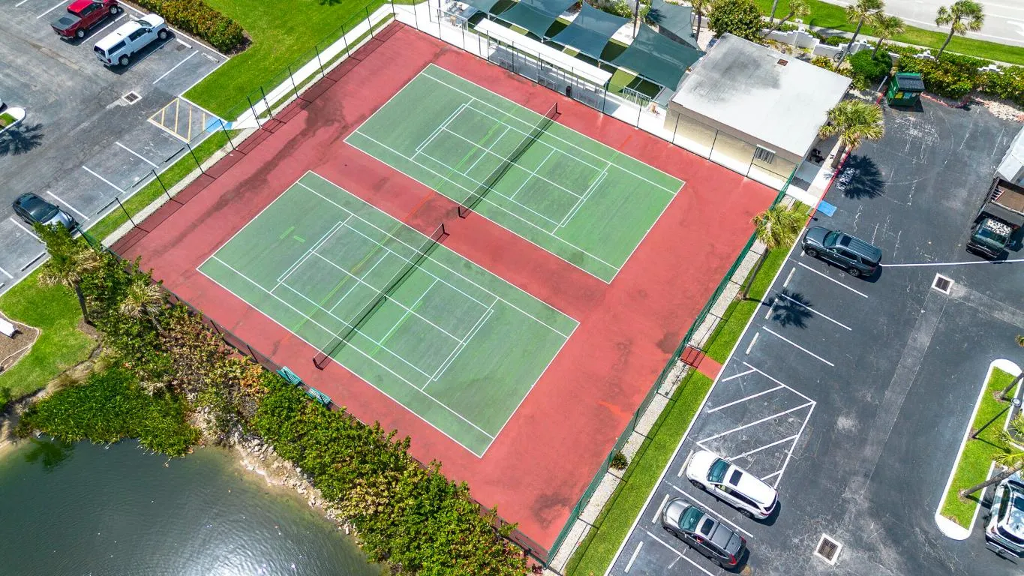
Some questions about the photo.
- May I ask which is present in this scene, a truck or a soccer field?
truck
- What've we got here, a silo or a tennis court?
tennis court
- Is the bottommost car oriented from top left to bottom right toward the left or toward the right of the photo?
right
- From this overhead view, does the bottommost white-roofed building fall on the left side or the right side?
right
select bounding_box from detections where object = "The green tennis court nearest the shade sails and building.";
[343,64,685,284]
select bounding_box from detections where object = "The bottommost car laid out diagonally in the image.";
[660,499,748,571]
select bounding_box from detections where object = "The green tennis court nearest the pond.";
[197,170,581,458]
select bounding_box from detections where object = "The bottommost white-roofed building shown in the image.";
[666,31,855,181]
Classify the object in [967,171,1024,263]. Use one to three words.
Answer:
truck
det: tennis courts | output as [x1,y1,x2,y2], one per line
[343,64,685,284]
[197,170,581,458]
